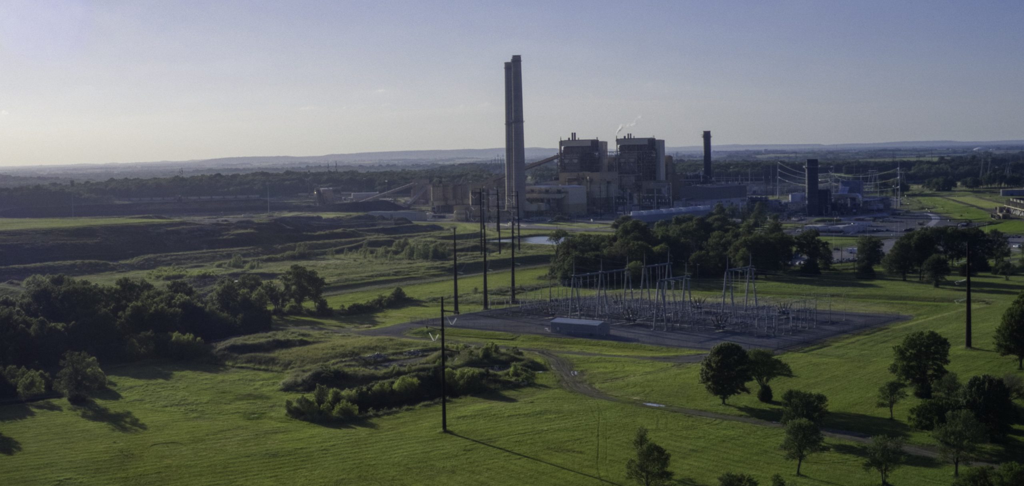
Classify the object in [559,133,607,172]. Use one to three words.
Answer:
building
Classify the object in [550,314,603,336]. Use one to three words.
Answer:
building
